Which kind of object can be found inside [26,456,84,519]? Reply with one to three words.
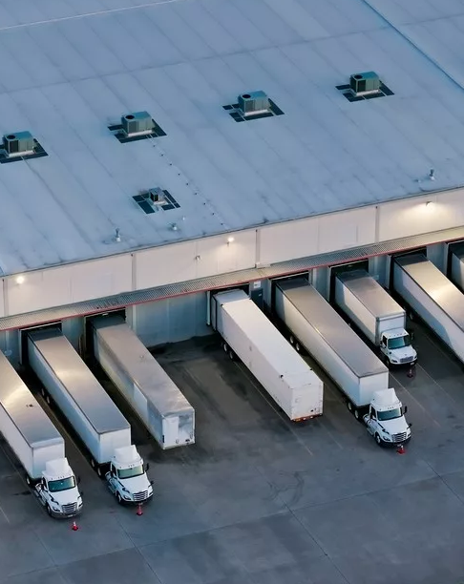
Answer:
truck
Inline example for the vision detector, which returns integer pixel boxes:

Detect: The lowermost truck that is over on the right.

[341,388,410,449]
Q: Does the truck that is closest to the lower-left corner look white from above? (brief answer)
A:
Yes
